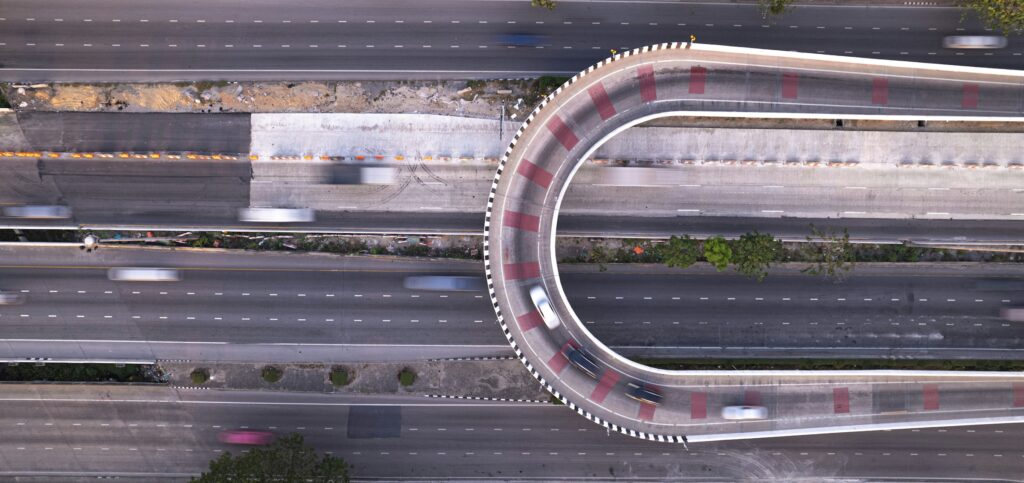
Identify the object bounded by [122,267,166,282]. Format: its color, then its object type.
white car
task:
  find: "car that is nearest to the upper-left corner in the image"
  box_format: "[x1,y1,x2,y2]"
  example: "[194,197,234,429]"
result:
[12,205,59,219]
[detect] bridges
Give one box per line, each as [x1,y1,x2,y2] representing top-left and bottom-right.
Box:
[484,42,1024,442]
